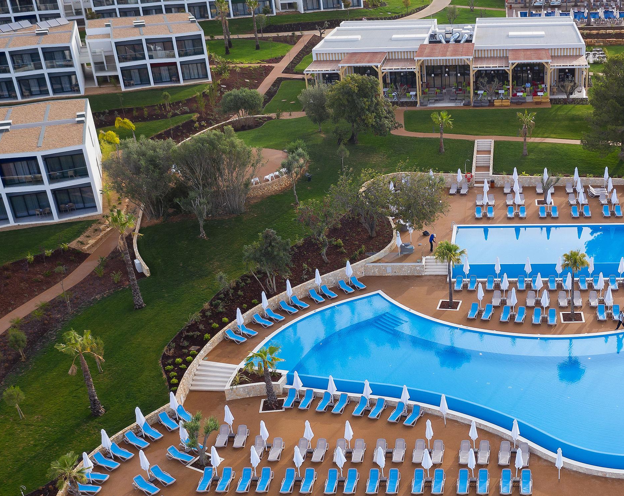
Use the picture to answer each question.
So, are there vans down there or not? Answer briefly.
No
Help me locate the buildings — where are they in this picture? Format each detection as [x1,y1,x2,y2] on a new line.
[0,20,84,102]
[0,103,102,227]
[268,0,363,14]
[83,15,212,93]
[303,0,589,107]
